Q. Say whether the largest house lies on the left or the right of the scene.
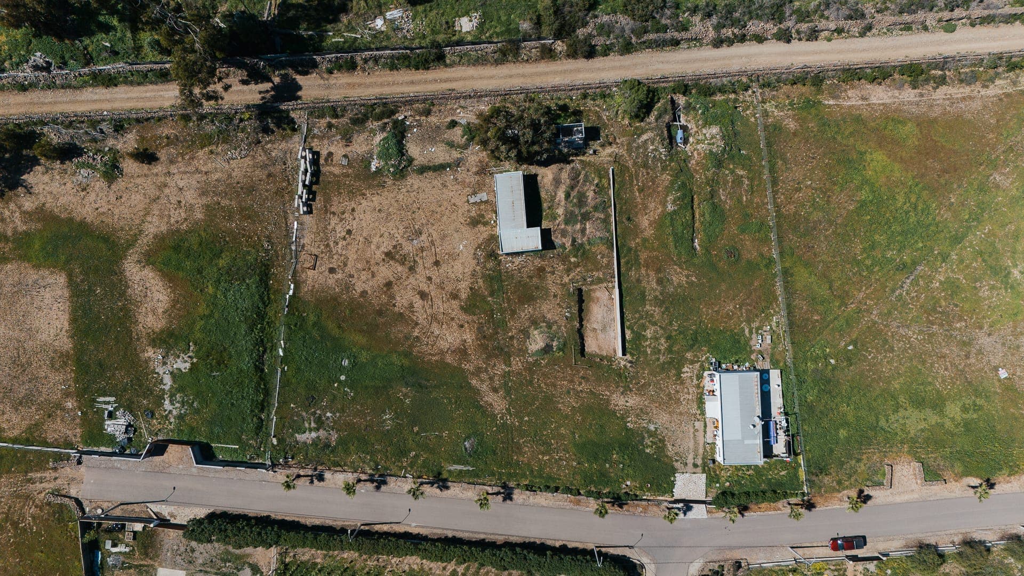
right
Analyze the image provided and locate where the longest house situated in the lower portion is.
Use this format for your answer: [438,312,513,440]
[712,369,765,466]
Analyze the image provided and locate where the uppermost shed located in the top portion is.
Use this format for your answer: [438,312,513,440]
[553,123,585,151]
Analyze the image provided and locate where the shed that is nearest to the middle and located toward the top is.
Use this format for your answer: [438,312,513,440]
[495,171,542,254]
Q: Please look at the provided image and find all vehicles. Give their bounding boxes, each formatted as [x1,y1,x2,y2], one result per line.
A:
[829,536,867,554]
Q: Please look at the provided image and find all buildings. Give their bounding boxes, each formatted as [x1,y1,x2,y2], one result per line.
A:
[712,369,765,466]
[553,123,585,151]
[495,171,542,254]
